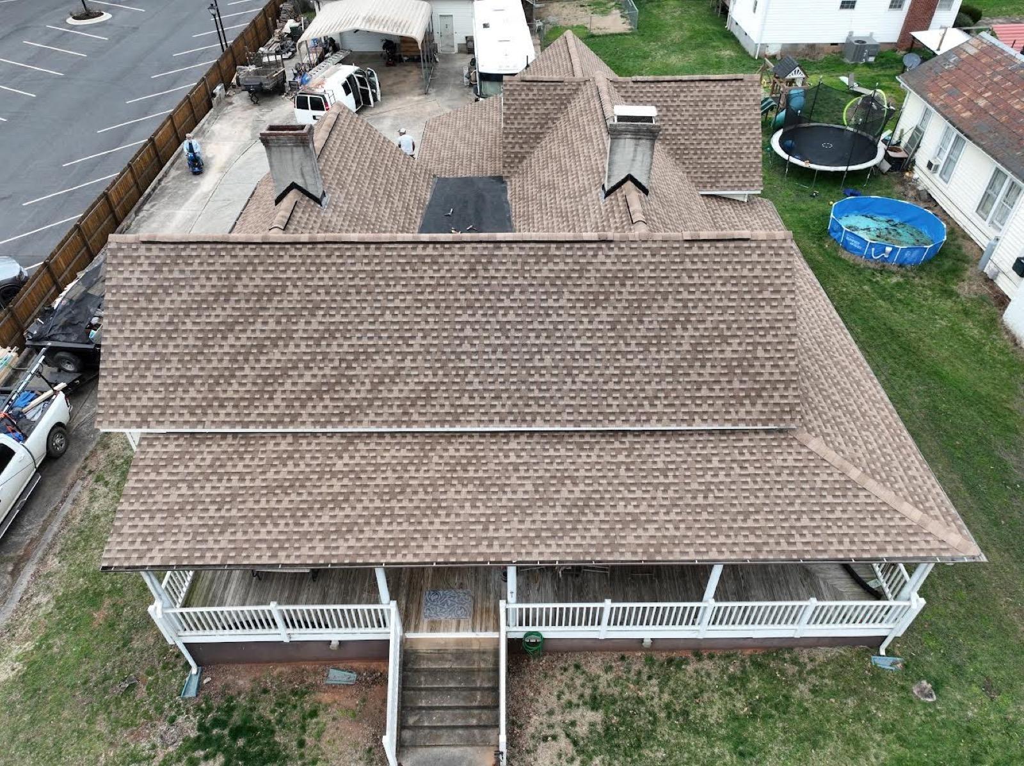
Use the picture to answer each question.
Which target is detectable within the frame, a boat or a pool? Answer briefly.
pool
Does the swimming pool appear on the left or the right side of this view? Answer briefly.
right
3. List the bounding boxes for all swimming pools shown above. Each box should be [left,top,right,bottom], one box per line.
[820,194,947,268]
